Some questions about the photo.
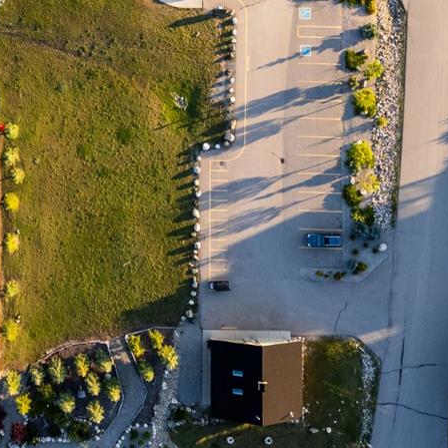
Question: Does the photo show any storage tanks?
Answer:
No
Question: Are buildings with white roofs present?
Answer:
No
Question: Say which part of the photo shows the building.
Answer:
bottom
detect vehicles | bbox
[208,280,229,293]
[303,232,344,250]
